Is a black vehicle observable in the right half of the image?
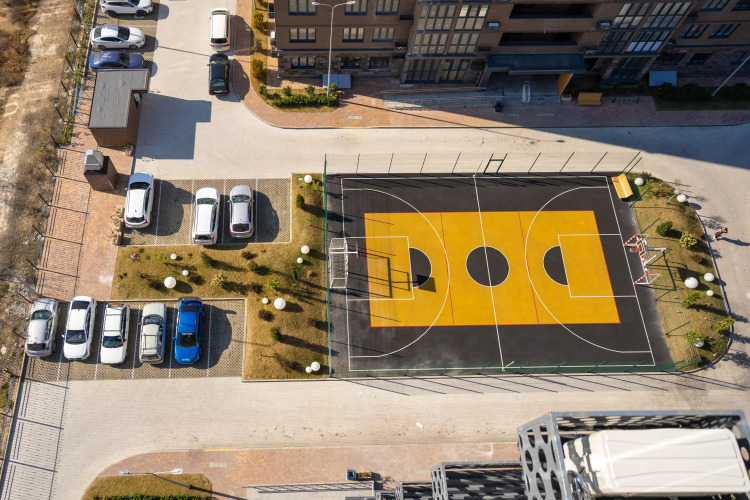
No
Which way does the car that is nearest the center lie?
up and down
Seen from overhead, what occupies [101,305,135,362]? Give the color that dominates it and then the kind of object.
white car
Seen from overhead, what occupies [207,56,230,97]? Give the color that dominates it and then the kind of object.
black car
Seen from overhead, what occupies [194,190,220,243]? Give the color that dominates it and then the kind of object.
white car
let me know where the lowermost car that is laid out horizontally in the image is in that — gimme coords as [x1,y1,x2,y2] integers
[89,51,141,73]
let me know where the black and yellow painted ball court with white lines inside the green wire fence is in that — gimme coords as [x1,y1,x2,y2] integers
[325,171,676,378]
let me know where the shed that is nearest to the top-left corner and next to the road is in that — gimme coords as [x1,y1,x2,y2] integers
[87,68,150,146]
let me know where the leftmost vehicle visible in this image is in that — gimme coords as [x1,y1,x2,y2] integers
[28,299,62,357]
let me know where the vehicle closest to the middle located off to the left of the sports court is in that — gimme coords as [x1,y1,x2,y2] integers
[229,188,255,238]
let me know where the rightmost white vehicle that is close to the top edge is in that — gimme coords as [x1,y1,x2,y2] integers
[209,12,231,53]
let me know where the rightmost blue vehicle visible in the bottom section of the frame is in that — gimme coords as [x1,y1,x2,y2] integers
[174,297,204,362]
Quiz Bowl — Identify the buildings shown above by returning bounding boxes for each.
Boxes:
[87,68,150,146]
[245,410,750,500]
[264,0,750,110]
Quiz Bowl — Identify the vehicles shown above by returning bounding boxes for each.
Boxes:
[89,51,141,73]
[207,56,230,97]
[90,26,143,51]
[100,0,150,18]
[140,304,168,361]
[127,177,155,229]
[229,188,255,238]
[28,299,62,357]
[64,296,99,359]
[101,305,135,362]
[174,297,204,362]
[209,12,231,53]
[194,190,220,243]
